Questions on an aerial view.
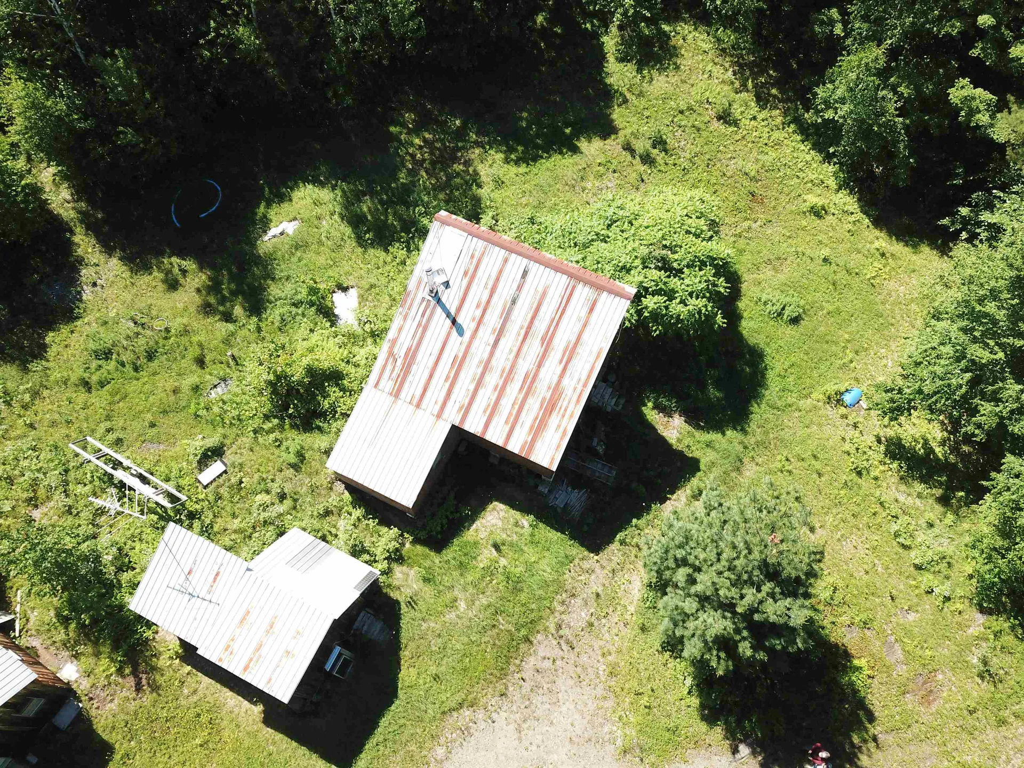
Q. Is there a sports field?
No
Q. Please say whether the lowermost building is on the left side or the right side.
left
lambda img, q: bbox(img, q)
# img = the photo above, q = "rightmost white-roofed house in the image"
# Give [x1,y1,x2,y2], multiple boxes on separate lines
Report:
[332,209,637,517]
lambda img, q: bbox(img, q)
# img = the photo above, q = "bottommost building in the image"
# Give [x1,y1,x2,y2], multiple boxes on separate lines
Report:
[0,632,71,757]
